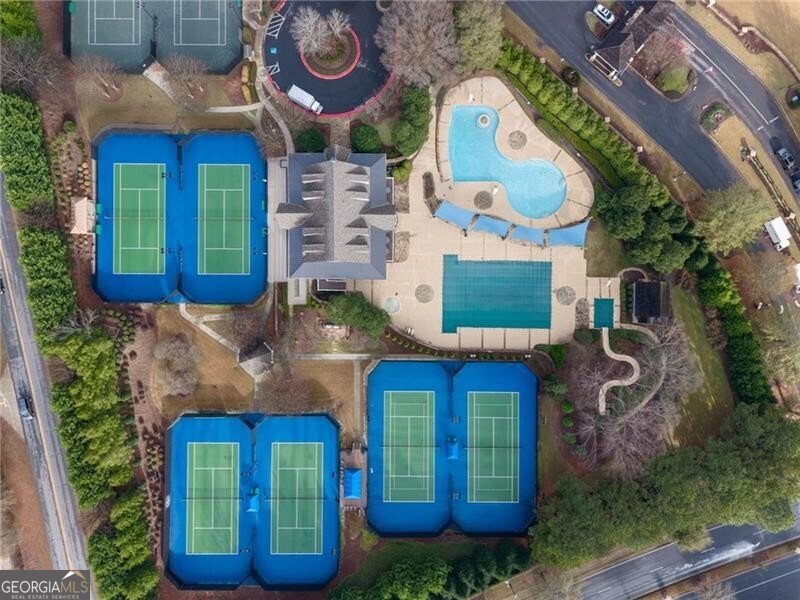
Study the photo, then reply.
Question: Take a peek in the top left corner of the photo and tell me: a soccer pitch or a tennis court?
tennis court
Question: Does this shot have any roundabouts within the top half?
Yes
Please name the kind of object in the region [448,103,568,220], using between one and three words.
swimming pool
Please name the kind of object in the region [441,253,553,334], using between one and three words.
swimming pool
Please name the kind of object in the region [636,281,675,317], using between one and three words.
building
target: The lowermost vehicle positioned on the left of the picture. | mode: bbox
[18,396,35,420]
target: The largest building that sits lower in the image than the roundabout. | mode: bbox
[276,143,396,291]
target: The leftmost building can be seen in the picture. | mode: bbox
[73,194,103,234]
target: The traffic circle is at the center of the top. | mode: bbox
[299,17,362,80]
